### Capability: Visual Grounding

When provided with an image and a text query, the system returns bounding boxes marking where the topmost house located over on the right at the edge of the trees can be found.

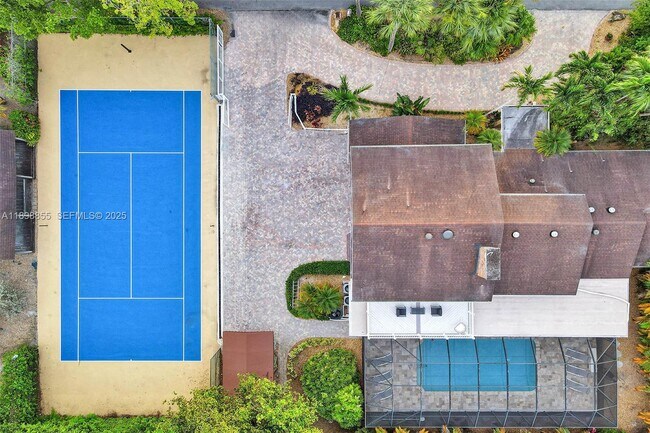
[348,105,650,340]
